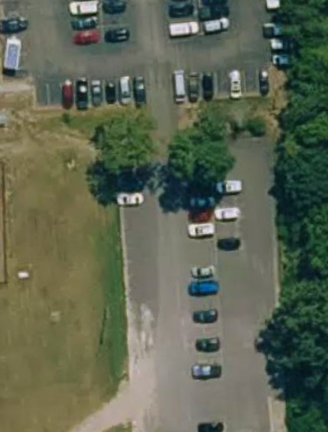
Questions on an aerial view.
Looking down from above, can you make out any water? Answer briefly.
No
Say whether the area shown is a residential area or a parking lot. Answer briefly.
parking lot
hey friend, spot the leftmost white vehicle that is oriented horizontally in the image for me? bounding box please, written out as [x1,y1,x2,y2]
[69,2,99,16]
